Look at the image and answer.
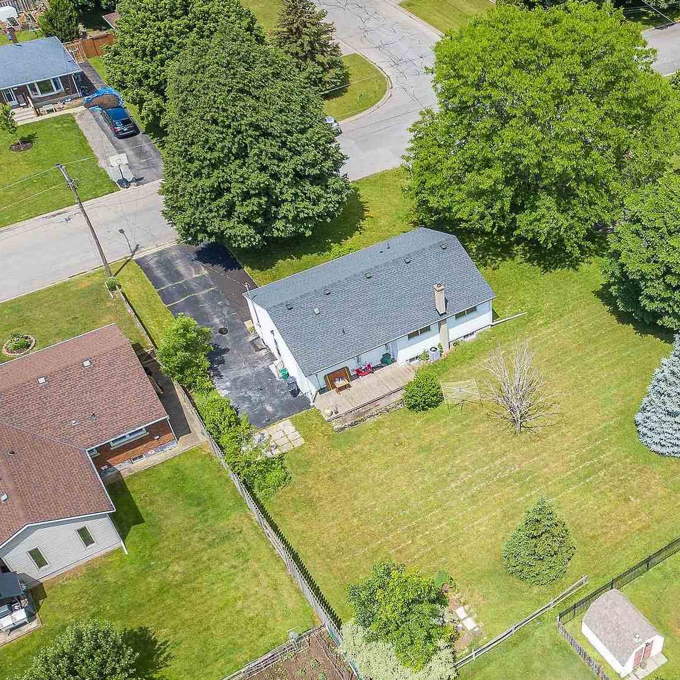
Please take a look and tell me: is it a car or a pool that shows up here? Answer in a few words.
car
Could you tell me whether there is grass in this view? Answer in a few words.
Yes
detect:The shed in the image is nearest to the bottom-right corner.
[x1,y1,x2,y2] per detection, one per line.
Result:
[580,583,671,680]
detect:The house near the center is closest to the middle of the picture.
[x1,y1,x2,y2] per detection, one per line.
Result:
[237,227,524,404]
